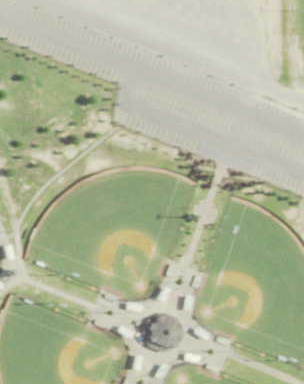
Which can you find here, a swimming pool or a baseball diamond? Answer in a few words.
baseball diamond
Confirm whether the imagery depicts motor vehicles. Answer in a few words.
No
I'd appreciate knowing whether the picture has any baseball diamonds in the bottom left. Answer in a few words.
Yes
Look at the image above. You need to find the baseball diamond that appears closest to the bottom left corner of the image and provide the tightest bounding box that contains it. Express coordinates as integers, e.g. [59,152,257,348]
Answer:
[0,296,127,384]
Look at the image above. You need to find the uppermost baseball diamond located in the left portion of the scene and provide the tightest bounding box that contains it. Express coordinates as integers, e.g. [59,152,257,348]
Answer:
[24,167,196,301]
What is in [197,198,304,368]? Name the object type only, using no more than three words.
baseball field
